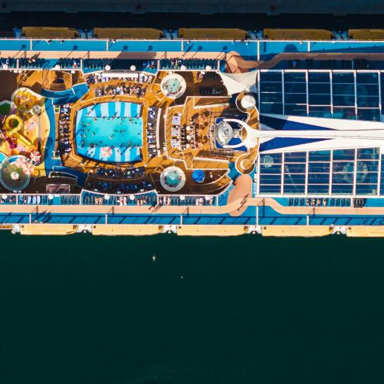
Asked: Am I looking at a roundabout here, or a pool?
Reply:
pool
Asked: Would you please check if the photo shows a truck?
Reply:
No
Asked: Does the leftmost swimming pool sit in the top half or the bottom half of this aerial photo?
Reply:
top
